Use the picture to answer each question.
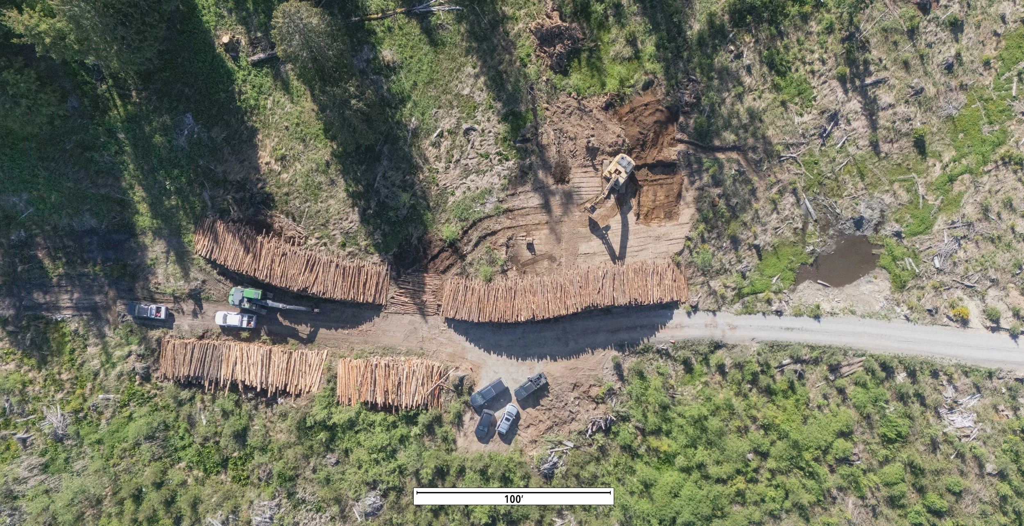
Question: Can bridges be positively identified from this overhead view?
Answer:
No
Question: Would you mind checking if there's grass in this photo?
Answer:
Yes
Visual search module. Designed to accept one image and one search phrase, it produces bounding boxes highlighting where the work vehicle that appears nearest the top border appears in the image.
[586,155,634,213]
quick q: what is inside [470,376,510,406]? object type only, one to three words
truck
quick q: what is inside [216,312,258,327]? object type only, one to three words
vehicle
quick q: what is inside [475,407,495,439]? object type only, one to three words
car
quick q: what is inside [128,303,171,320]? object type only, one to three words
vehicle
